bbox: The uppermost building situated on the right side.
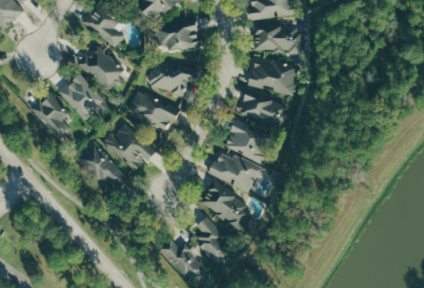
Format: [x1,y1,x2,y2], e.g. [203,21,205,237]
[247,0,296,24]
